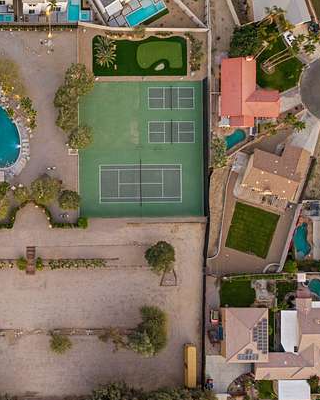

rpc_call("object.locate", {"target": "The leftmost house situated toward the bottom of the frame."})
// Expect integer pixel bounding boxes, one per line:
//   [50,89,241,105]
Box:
[222,307,269,363]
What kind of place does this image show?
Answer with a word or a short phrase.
residential area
